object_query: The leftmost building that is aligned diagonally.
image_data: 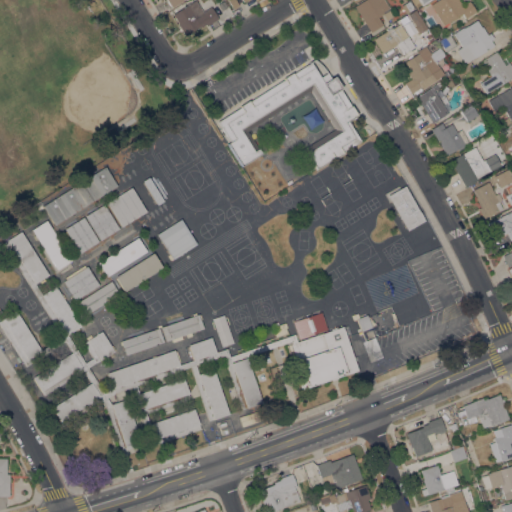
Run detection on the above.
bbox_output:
[0,314,42,367]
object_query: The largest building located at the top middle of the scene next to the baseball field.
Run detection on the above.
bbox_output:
[220,61,362,168]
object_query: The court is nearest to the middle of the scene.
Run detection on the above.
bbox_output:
[226,236,267,279]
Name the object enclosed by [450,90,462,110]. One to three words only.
swimming pool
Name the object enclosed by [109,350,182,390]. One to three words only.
building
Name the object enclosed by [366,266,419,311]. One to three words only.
sports court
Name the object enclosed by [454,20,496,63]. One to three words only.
house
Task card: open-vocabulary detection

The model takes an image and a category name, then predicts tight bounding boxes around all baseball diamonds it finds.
[0,0,177,236]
